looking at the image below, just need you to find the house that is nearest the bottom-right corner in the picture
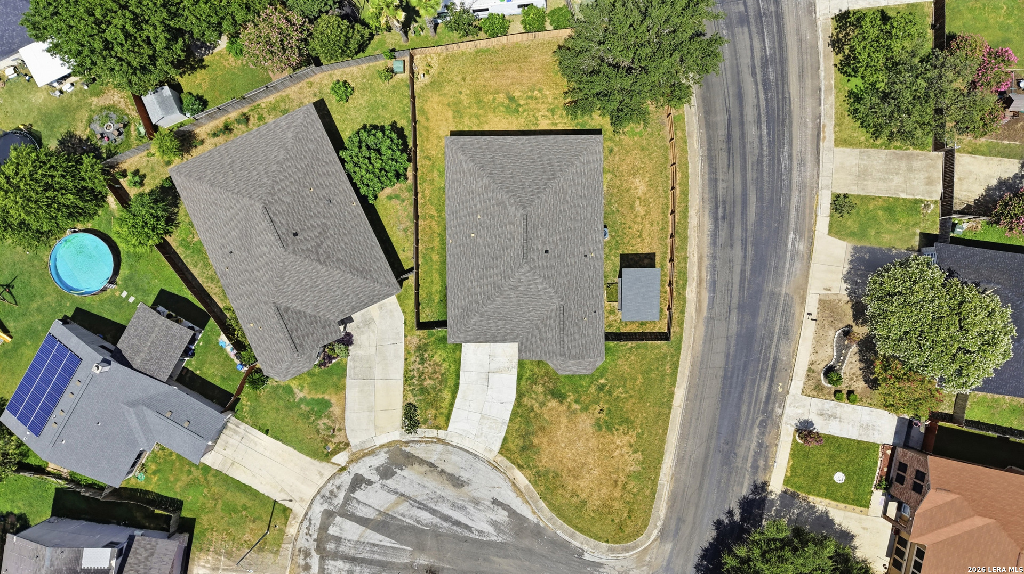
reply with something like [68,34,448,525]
[882,448,1024,574]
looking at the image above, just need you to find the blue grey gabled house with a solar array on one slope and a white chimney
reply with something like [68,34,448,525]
[0,318,234,488]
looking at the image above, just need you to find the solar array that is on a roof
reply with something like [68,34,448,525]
[5,332,81,437]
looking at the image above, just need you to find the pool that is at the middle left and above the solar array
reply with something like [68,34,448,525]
[51,231,122,295]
